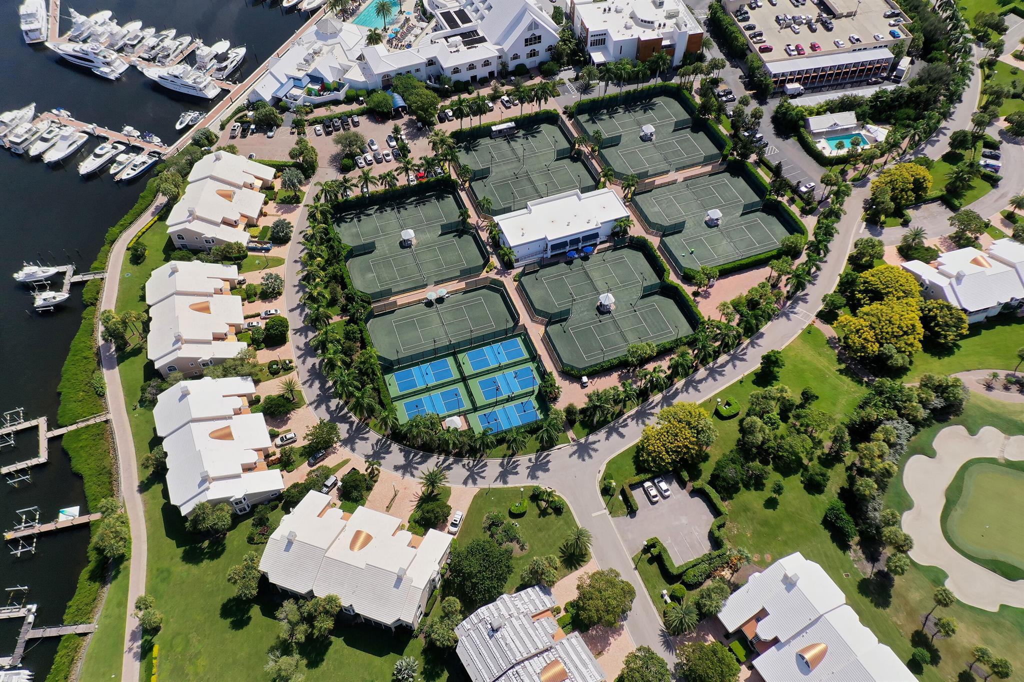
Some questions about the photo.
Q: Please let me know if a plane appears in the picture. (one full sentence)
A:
No, the frame has no plane in it.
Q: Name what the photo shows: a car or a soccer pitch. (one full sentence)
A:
It is a car that can be seen here.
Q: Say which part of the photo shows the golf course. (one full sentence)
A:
The golf course is in the bottom right part of the image.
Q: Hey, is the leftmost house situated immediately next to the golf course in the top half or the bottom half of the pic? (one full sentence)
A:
You can find the leftmost house situated immediately next to the golf course in the bottom half.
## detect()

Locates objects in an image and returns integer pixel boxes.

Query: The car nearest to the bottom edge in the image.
[448,510,464,534]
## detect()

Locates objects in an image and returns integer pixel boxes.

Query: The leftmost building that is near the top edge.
[258,14,378,105]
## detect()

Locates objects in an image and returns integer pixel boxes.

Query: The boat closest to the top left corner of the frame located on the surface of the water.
[22,0,46,47]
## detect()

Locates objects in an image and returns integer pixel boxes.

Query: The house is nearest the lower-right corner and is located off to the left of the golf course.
[715,552,920,682]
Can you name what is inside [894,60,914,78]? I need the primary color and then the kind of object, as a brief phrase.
white vehicle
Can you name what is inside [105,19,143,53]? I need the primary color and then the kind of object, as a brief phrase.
white boat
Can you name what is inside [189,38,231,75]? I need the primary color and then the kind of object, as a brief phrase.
white boat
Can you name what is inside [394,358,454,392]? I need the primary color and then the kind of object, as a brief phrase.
blue sports court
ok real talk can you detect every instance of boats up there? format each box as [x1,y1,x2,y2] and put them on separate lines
[207,45,247,81]
[189,38,231,75]
[93,66,123,82]
[0,98,37,154]
[136,63,225,104]
[176,108,198,131]
[77,143,134,178]
[154,33,192,66]
[60,8,111,43]
[22,0,46,47]
[105,19,143,53]
[109,152,141,176]
[123,26,156,55]
[301,0,326,13]
[138,29,177,62]
[119,152,160,182]
[31,292,71,310]
[10,266,60,284]
[282,0,301,8]
[47,107,71,117]
[118,126,140,137]
[40,130,97,166]
[140,133,161,144]
[8,117,52,159]
[27,120,73,159]
[189,110,208,125]
[45,38,136,78]
[90,15,123,46]
[0,667,37,682]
